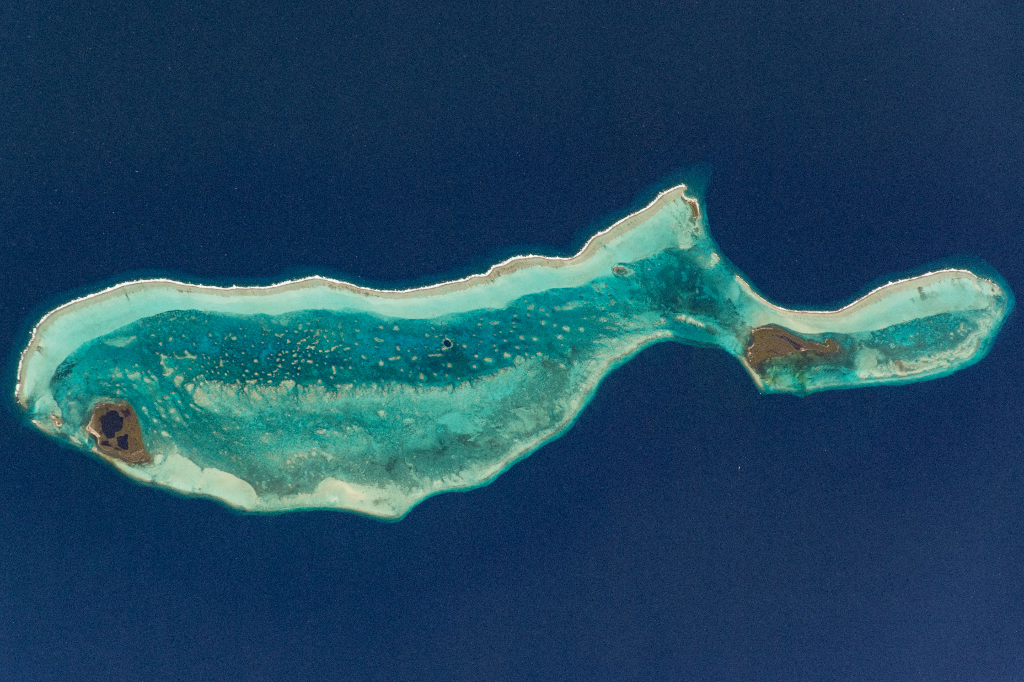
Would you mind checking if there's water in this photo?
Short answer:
Yes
